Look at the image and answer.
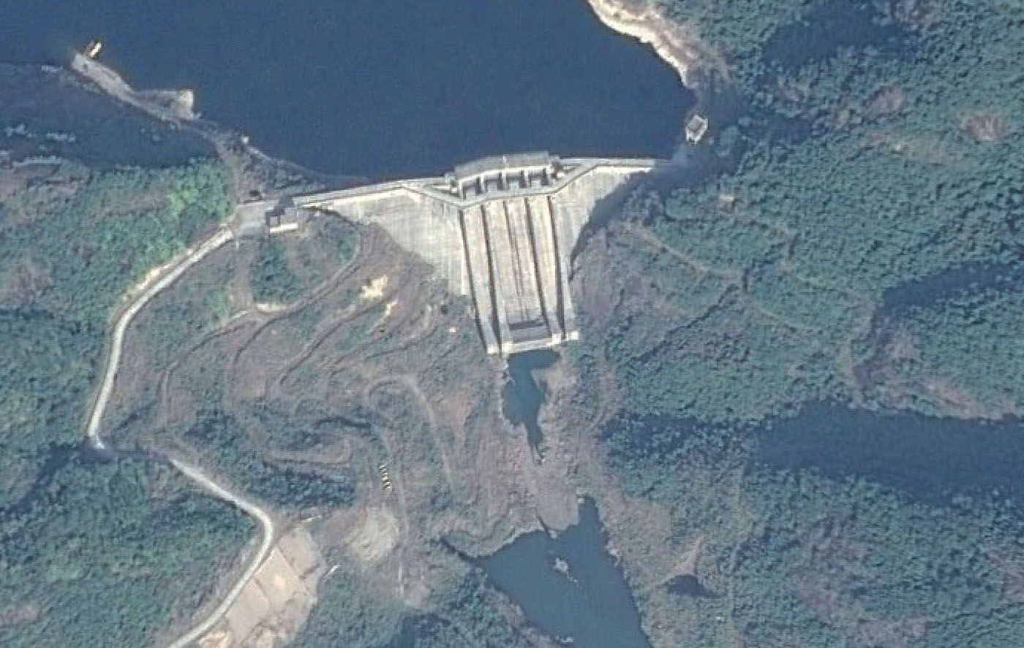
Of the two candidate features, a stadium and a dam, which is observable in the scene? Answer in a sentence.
This aerial view contains a dam.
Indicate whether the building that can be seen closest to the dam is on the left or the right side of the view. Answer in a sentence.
You can find the building that can be seen closest to the dam on the left side of the picture.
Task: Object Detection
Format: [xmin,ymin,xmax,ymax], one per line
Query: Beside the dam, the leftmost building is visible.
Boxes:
[268,209,300,232]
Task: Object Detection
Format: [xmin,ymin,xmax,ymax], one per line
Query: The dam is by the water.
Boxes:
[292,151,669,355]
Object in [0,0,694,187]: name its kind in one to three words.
pond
